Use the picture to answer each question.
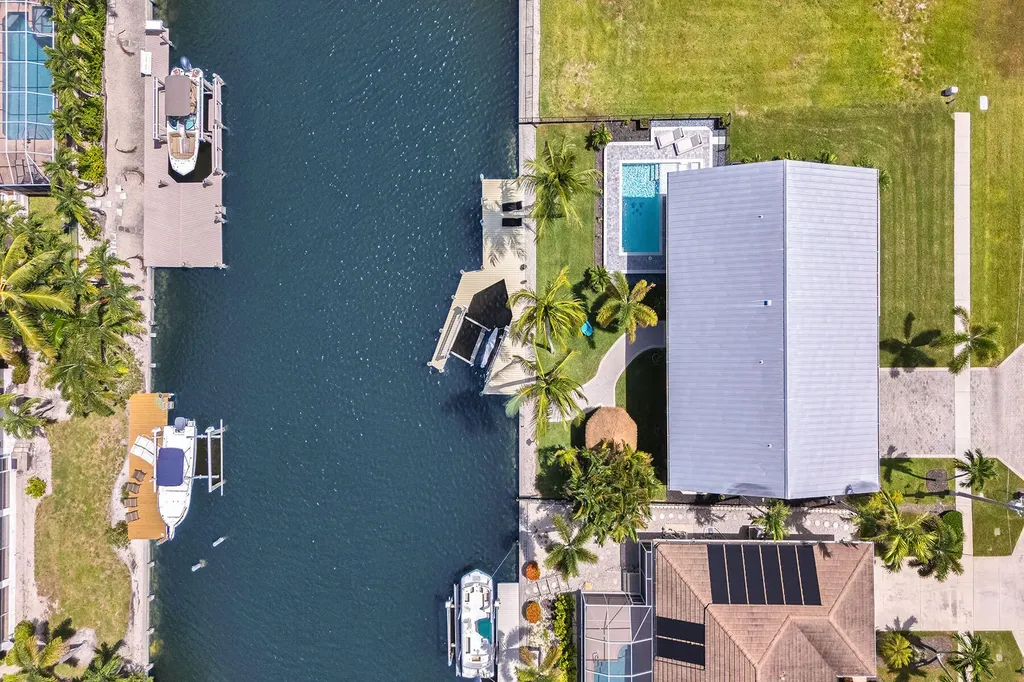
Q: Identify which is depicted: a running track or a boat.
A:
boat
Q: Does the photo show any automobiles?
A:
No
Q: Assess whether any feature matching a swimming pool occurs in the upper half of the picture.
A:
Yes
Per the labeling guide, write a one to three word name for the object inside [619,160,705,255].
swimming pool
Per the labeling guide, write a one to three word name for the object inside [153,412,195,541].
boat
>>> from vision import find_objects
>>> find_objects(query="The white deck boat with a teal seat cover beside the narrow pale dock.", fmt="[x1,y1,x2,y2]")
[459,570,494,682]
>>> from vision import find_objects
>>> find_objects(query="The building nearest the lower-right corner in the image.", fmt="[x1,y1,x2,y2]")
[654,539,875,682]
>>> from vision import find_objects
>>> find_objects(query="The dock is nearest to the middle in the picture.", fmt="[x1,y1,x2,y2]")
[426,171,524,397]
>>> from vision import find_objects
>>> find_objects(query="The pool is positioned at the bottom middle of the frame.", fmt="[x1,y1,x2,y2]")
[593,645,630,682]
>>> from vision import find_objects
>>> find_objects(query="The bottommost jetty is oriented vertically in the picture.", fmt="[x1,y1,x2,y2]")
[497,583,519,682]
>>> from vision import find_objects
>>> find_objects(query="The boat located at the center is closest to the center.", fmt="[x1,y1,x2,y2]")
[481,328,499,367]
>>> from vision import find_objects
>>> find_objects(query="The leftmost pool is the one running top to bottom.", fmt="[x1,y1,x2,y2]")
[4,12,51,139]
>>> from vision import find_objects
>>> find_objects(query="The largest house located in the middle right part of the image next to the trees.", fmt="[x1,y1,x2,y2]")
[666,159,880,499]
